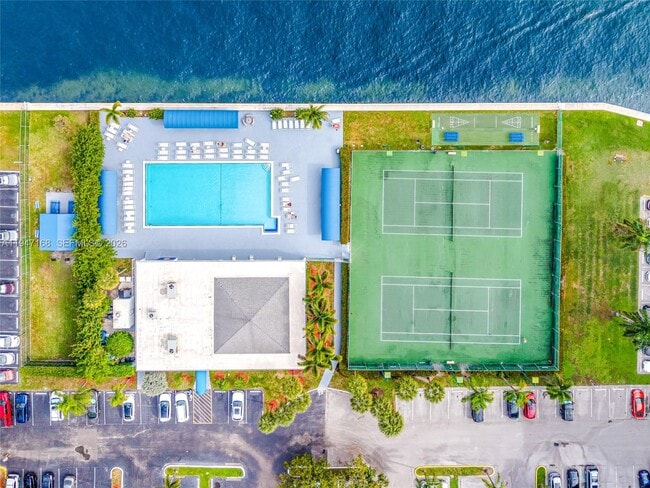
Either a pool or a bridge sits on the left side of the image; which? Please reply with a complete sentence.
The one visible on the left side of the image is a pool.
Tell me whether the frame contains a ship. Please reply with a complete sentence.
No, there is no ship in the image.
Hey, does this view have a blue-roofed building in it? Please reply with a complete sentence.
Yes, a blue-roofed building appears in the view.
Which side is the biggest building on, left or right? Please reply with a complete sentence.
It is on the left.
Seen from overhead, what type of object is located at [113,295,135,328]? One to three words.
building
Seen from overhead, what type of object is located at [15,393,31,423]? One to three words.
car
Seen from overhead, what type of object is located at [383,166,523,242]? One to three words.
tennis court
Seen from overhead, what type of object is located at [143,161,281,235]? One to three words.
swimming pool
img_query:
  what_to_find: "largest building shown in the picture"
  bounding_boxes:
[135,258,306,371]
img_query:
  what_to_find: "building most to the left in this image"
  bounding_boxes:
[40,213,81,251]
